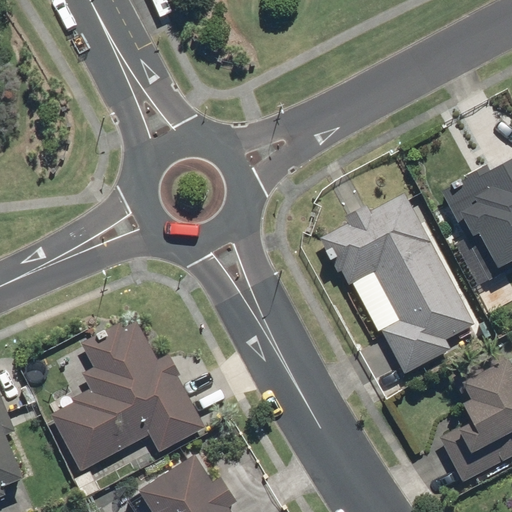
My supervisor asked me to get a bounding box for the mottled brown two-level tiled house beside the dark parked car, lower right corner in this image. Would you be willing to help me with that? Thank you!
[442,359,512,483]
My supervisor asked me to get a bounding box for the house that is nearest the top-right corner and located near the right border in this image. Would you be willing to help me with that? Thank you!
[444,158,512,285]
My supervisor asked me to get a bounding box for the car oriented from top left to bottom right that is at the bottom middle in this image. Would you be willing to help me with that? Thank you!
[258,388,288,421]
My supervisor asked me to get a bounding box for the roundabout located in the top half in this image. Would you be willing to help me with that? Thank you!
[159,156,226,224]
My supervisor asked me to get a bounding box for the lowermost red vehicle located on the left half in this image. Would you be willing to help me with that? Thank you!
[165,221,200,238]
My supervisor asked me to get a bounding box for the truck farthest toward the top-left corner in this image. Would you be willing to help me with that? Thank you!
[50,0,78,29]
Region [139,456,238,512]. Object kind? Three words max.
house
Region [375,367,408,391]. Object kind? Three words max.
car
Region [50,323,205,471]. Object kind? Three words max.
house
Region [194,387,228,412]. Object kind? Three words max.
vehicle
